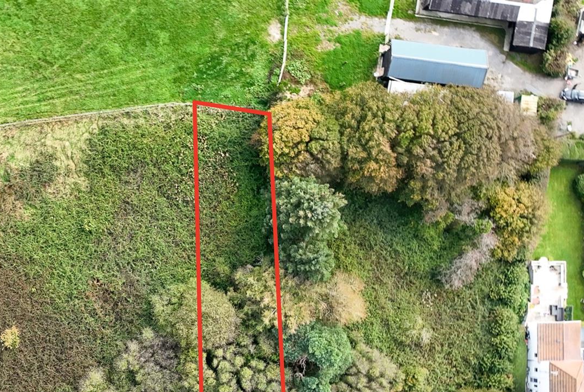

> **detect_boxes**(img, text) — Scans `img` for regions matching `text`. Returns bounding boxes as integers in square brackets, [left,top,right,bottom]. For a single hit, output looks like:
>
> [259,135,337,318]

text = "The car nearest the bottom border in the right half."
[564,87,584,103]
